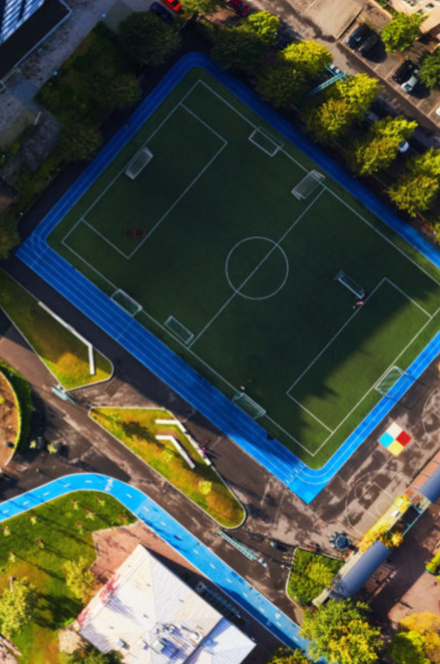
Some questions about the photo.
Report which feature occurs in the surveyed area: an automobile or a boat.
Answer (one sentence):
Looking from above, you can make out an automobile.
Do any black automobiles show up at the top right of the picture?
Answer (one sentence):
Yes, there is a black automobile at the top right of the picture.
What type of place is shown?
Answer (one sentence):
It's a sports ground.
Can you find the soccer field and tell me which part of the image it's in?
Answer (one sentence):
Look in the center portion of the view to spot the soccer field.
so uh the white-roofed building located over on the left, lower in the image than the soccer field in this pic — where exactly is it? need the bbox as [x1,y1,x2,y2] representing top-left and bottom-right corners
[78,546,256,664]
